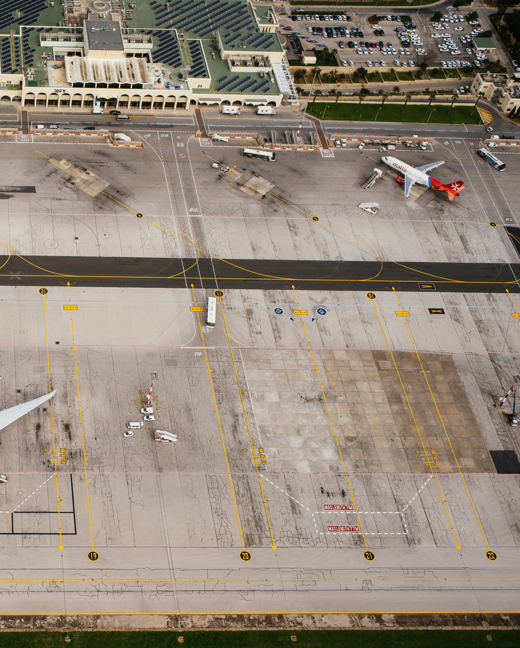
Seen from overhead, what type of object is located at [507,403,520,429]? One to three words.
vehicle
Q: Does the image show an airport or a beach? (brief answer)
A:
airport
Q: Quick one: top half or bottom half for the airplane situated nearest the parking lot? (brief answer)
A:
top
